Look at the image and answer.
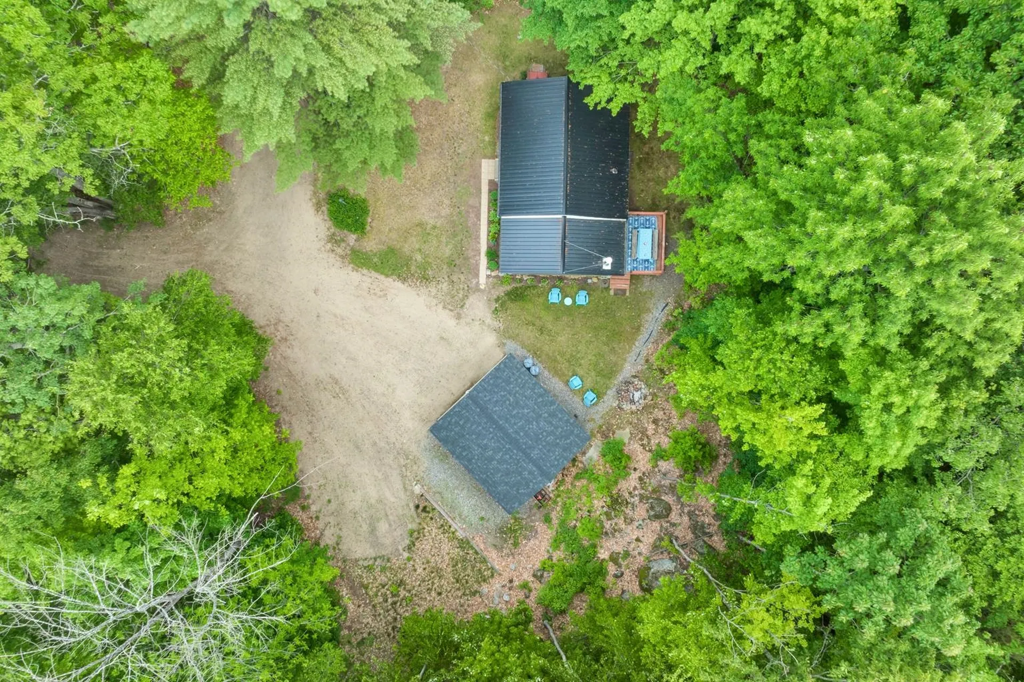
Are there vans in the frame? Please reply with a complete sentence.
No, the scene contains no van.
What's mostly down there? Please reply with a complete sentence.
The largest share of the image is taken up by trees.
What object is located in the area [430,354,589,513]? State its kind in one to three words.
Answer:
building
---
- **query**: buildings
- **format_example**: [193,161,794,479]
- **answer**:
[430,354,589,513]
[495,75,630,281]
